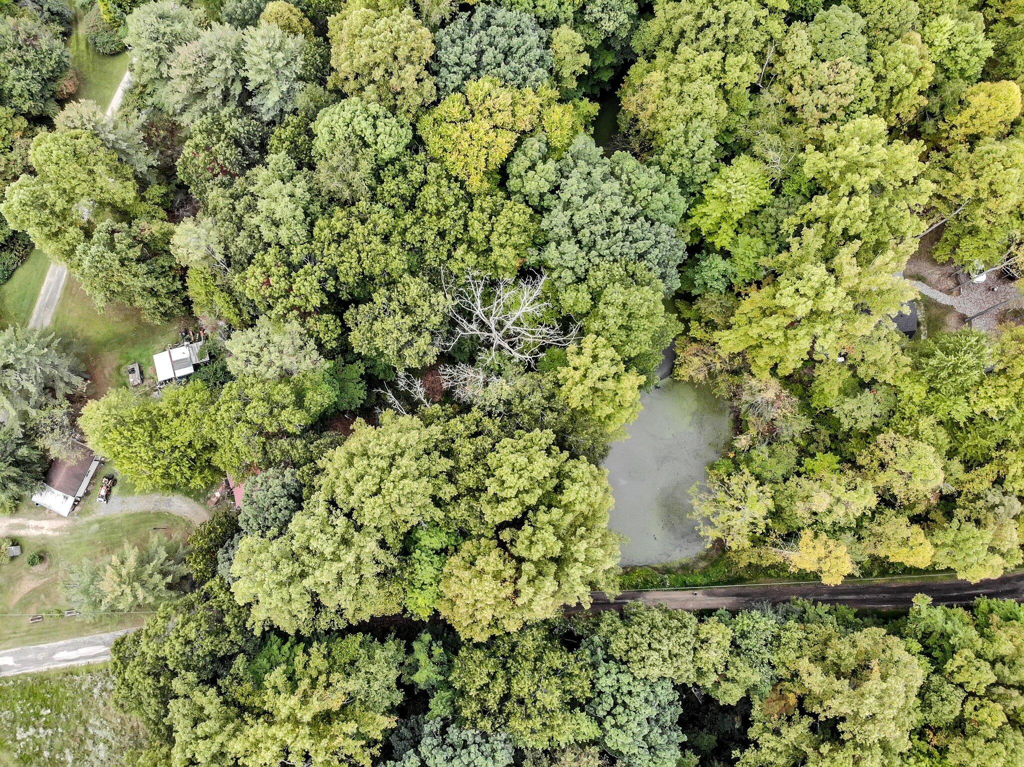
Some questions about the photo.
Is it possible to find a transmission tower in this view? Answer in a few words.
No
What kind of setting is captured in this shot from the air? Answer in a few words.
forest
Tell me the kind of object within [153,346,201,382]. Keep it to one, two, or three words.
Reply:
shed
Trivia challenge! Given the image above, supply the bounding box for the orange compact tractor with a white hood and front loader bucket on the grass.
[94,478,114,506]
